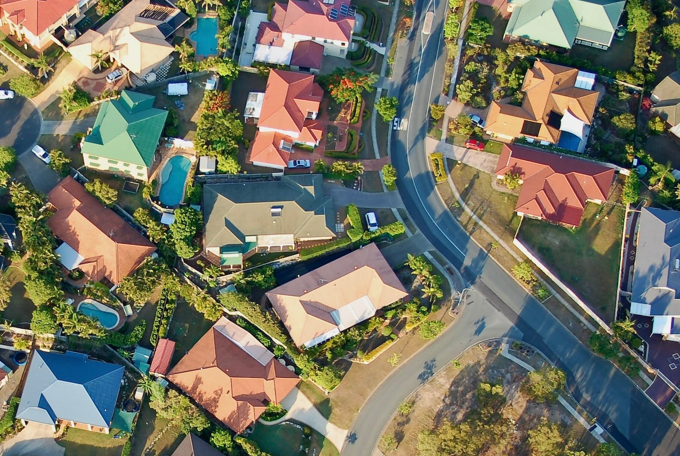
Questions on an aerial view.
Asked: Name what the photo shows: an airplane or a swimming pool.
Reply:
swimming pool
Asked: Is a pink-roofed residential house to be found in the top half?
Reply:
Yes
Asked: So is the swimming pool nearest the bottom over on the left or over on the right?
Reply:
left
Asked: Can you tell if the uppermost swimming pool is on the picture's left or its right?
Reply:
left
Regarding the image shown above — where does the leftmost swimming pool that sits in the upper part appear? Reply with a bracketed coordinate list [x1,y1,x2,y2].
[156,153,194,208]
